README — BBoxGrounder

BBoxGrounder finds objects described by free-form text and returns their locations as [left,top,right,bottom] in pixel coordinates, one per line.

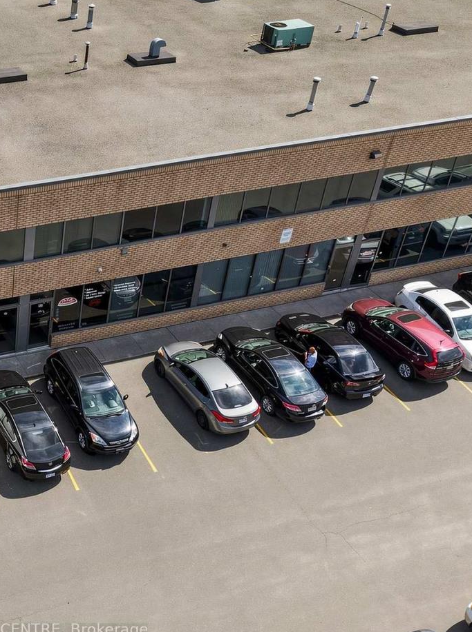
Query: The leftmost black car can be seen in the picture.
[0,371,63,476]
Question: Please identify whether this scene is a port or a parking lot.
parking lot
